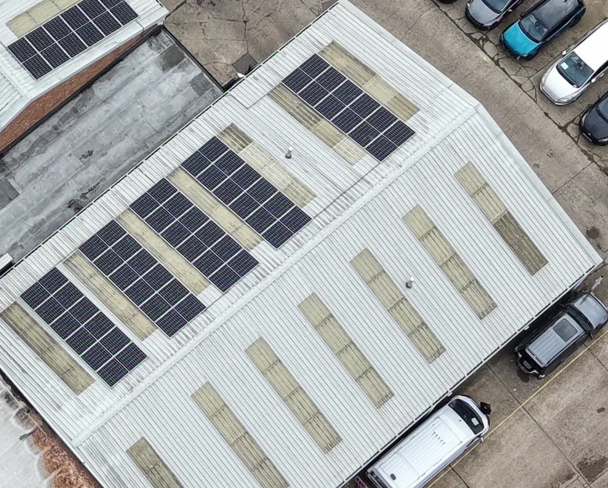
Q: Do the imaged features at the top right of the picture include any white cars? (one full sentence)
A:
Yes, I can see a white car at the top right of the picture.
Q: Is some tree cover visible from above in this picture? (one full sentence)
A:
No, no tree cover is visible.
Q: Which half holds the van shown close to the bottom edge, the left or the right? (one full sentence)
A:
The van shown close to the bottom edge is on the right side of the image.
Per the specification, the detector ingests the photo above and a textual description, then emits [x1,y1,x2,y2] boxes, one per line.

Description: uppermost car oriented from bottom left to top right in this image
[511,0,586,59]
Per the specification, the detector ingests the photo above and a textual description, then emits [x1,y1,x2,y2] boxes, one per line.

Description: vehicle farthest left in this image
[373,396,494,488]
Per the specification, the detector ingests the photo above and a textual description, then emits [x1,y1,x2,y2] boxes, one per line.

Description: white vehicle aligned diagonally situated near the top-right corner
[542,29,608,104]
